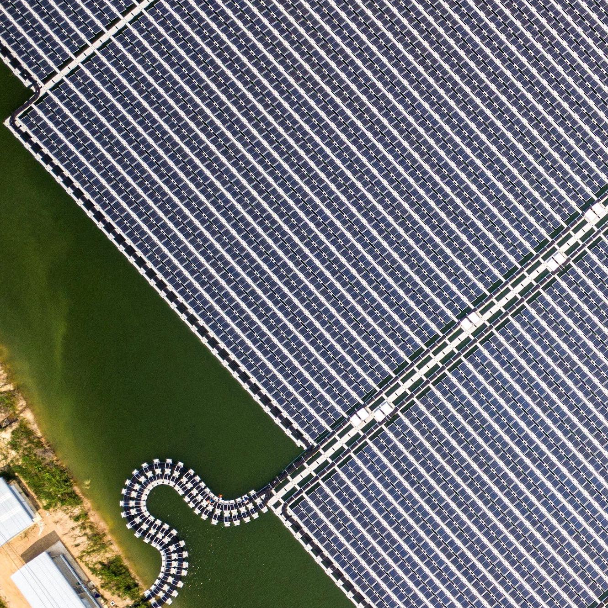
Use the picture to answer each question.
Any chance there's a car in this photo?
No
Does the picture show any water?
Yes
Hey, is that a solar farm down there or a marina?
solar farm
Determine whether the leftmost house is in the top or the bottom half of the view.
bottom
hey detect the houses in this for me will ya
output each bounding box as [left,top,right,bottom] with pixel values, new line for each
[10,546,103,608]
[0,473,54,546]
